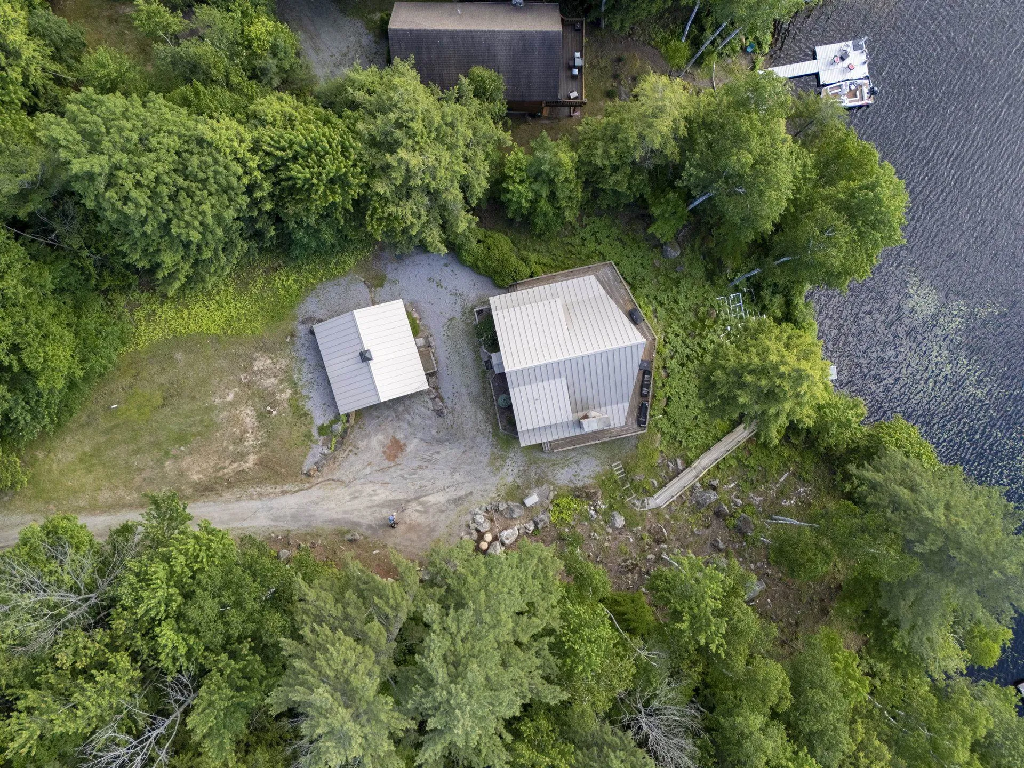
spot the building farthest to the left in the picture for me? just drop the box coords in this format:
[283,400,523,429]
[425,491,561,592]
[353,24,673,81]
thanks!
[313,299,429,415]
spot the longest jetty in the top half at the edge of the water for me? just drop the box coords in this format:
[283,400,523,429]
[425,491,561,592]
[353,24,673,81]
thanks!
[754,38,870,87]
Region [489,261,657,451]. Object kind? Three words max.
house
